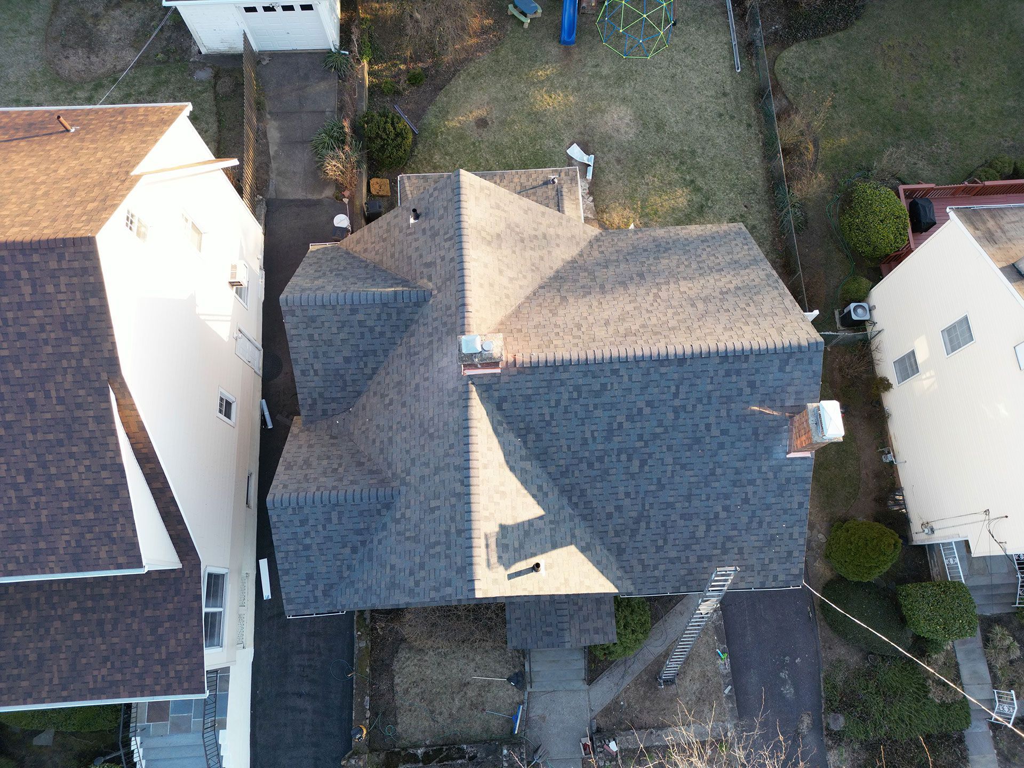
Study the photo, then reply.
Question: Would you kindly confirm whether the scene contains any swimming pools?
No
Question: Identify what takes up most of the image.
buildings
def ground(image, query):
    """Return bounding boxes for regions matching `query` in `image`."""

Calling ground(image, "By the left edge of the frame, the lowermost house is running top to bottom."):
[0,105,267,768]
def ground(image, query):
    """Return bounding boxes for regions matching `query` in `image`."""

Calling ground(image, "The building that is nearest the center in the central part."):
[263,165,851,694]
